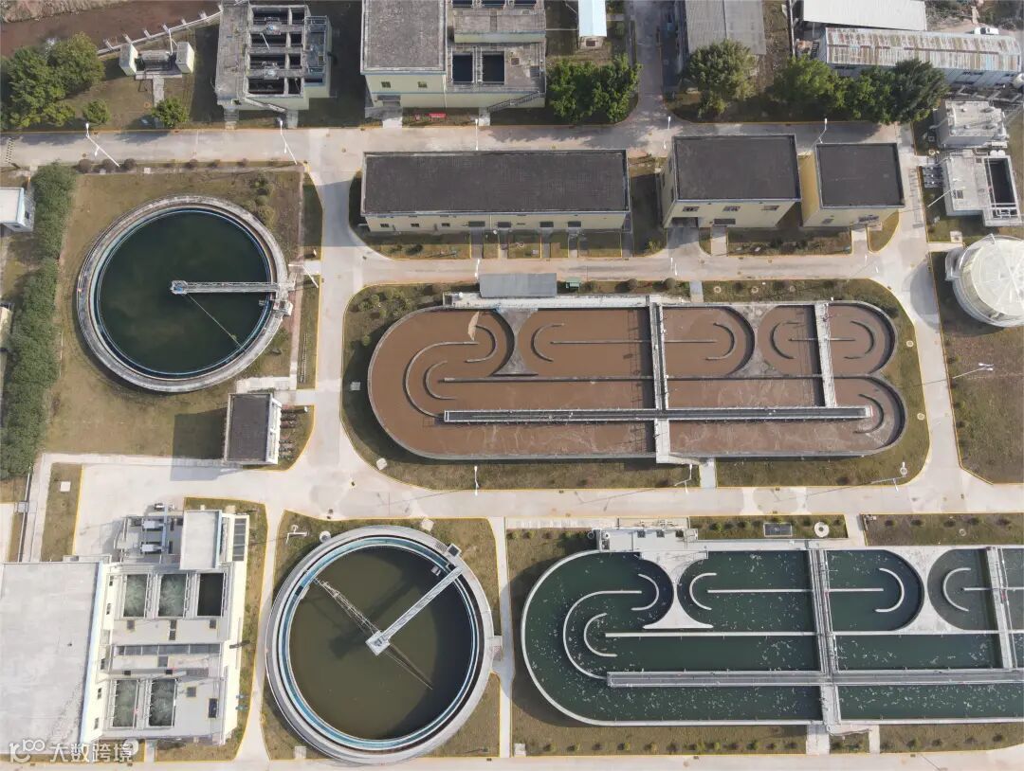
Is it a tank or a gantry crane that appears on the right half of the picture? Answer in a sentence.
The one visible on the right half of the picture is a tank.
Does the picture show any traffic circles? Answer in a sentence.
No, the picture doesn't show any traffic circle.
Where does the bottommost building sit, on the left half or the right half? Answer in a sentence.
The bottommost building is on the left side of the image.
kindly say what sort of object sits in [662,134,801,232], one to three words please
building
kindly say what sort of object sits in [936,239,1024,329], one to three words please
storage tank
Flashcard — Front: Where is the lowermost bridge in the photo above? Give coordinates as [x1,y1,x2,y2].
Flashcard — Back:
[607,664,1024,691]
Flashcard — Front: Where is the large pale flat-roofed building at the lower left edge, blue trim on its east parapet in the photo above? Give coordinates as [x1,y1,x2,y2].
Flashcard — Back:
[0,561,117,745]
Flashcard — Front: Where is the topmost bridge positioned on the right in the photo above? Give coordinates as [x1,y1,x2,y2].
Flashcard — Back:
[444,404,875,427]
